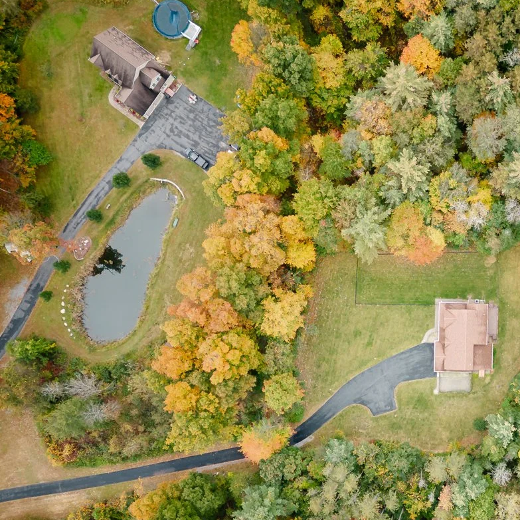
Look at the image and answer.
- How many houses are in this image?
2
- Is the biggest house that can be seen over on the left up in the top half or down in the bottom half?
top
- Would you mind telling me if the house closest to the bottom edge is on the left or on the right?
right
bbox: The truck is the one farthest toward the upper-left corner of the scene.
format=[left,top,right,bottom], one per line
[183,147,209,169]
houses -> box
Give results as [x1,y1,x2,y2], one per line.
[434,301,494,372]
[88,26,179,119]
